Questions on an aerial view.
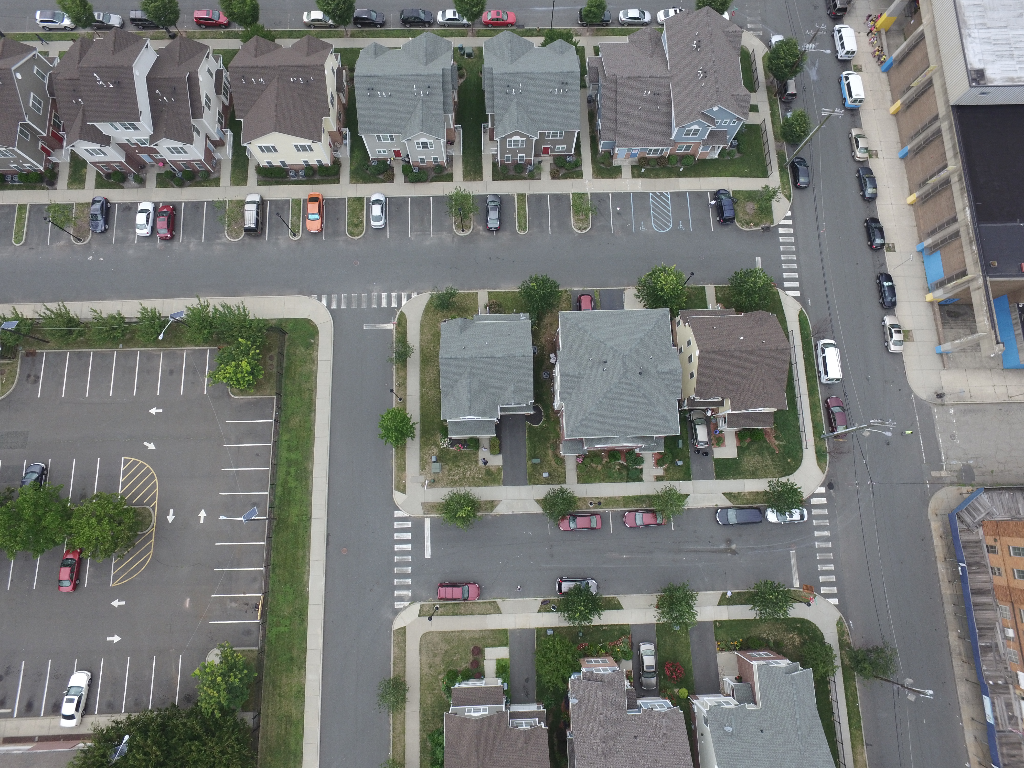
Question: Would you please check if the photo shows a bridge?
No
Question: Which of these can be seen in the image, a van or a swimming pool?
van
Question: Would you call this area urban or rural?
urban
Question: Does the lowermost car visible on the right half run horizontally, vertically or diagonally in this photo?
vertically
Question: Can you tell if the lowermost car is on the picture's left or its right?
left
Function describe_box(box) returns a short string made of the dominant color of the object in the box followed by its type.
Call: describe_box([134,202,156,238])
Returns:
white car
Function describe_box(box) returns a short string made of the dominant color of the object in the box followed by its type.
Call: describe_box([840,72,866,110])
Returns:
white vehicle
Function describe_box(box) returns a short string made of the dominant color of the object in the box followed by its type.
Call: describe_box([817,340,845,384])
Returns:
white van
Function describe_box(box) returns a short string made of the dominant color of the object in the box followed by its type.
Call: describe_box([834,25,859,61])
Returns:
white vehicle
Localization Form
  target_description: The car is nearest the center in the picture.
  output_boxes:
[577,291,593,311]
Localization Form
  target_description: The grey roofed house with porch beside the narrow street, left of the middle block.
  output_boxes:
[439,311,534,438]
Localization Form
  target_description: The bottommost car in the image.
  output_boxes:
[60,670,93,728]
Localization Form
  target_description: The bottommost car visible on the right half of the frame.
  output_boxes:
[638,642,660,690]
